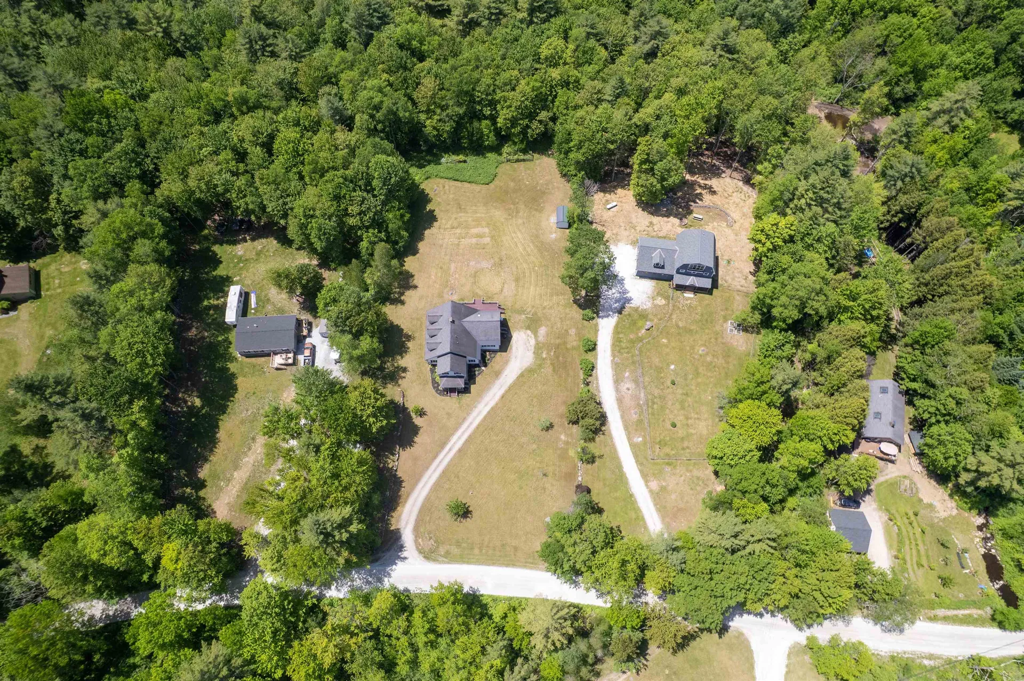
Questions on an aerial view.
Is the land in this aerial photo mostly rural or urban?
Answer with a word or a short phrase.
rural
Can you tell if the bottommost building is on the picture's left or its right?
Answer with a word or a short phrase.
right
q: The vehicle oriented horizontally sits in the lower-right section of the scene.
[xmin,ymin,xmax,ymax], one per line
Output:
[836,497,863,509]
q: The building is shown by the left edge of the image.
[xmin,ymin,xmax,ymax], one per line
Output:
[0,262,39,303]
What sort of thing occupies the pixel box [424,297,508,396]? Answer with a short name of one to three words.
house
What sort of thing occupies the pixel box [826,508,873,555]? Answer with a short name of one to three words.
building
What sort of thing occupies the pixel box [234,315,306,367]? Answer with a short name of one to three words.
house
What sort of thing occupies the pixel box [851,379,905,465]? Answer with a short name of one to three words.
building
